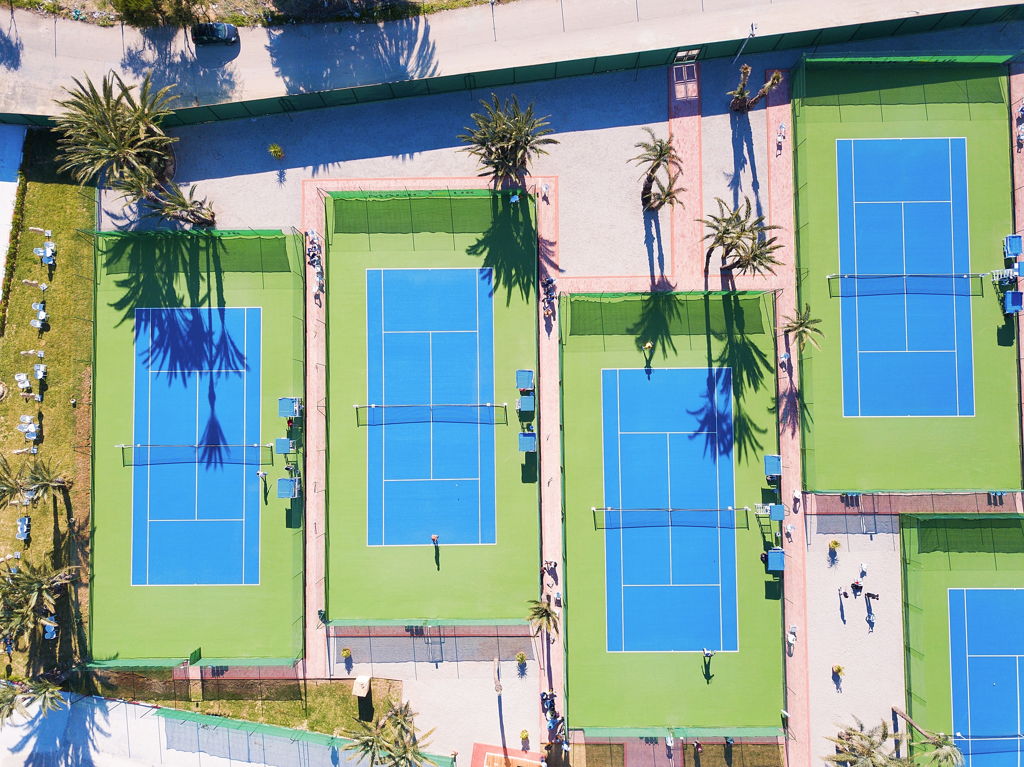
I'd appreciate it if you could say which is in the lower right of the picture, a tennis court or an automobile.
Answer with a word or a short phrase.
tennis court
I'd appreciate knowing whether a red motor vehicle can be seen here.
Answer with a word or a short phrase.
No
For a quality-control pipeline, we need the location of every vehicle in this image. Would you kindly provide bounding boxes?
[191,19,238,47]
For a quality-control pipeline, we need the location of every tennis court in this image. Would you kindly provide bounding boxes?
[558,295,787,729]
[791,69,1024,490]
[88,236,306,660]
[897,512,1024,767]
[324,196,542,622]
